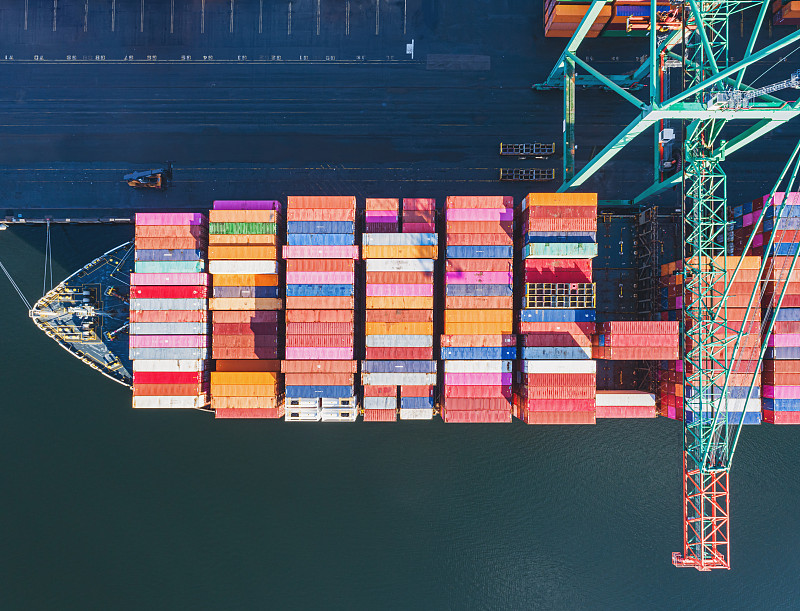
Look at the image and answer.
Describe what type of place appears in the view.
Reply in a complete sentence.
What you see here is a port.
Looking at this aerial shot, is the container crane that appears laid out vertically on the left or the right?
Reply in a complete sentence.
It is on the right.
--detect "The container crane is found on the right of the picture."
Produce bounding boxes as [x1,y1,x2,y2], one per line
[525,0,800,572]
